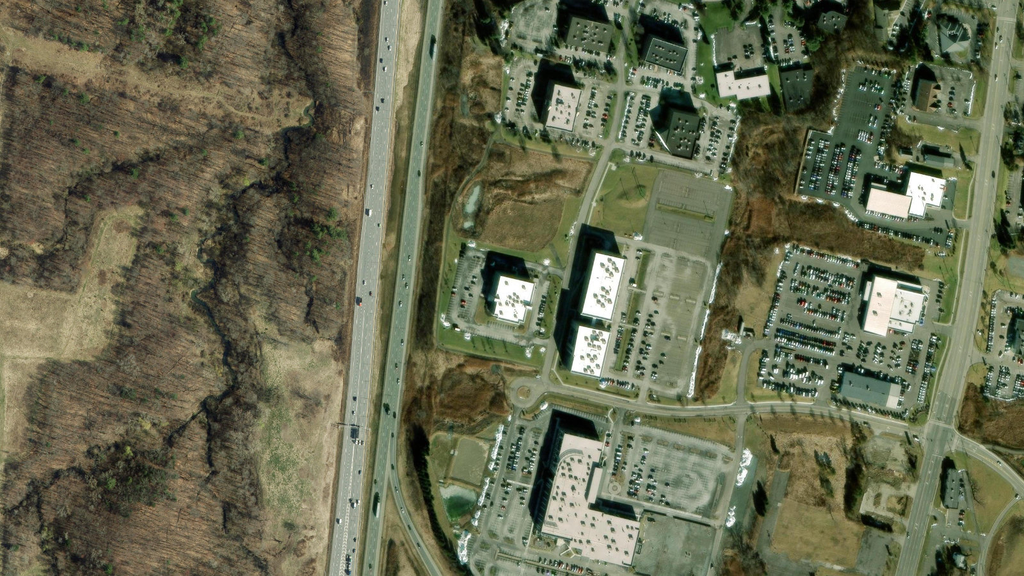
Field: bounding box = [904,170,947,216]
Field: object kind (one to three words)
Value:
building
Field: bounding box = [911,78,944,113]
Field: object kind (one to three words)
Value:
house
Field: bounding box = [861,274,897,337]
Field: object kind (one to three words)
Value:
building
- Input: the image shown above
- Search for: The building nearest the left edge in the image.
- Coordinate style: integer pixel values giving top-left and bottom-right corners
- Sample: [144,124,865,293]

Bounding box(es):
[489,272,535,324]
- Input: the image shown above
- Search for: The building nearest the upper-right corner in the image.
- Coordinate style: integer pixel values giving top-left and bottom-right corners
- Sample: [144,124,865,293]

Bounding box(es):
[940,14,970,52]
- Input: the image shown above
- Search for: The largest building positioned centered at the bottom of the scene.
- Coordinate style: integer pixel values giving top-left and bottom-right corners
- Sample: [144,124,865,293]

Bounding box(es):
[537,429,640,566]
